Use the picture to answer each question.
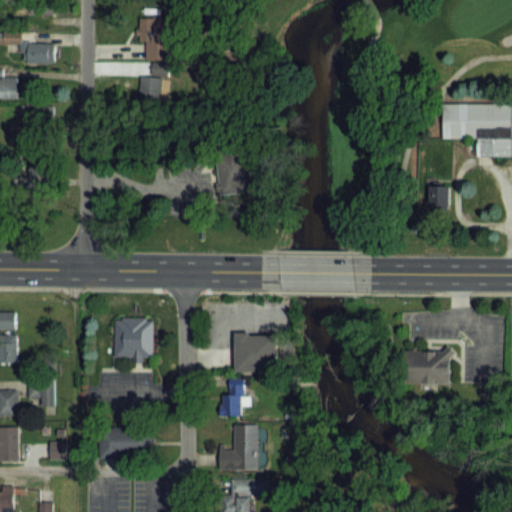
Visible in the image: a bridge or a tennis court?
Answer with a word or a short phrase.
bridge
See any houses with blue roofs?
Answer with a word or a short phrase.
Yes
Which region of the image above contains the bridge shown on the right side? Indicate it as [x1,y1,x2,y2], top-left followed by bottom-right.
[260,252,376,296]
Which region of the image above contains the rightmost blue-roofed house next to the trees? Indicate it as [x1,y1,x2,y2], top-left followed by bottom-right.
[220,380,254,419]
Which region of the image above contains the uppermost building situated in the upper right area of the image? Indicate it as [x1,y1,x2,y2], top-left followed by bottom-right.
[442,104,512,158]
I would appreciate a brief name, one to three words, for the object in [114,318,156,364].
building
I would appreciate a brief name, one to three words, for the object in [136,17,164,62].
house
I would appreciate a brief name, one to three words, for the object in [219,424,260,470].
house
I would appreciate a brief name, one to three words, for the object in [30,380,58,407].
building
